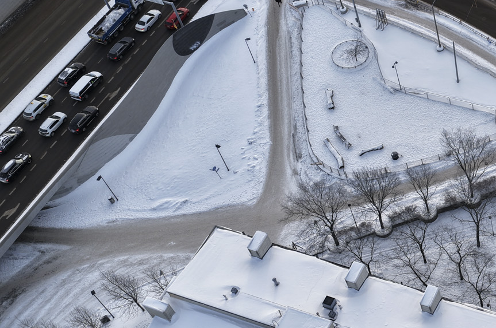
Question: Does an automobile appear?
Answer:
Yes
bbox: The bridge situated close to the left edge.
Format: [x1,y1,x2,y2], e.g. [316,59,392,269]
[0,78,139,263]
